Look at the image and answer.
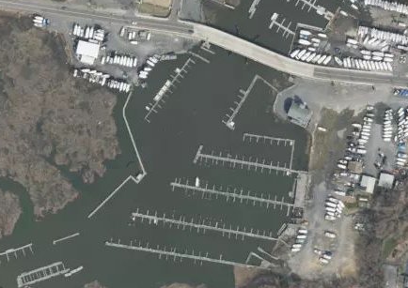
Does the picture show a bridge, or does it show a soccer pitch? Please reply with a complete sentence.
Visible in the photo is a bridge.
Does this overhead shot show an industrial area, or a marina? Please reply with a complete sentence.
The area seen from above is a marina.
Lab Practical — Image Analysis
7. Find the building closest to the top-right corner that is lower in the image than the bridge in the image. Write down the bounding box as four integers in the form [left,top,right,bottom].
[287,102,312,126]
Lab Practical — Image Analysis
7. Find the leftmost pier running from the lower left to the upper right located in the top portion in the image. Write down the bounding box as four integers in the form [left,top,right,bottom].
[145,43,214,123]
